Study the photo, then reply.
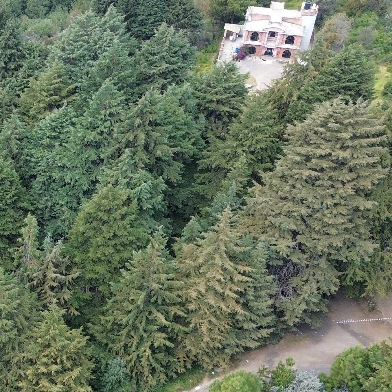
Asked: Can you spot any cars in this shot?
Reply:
No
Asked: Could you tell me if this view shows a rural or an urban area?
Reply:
rural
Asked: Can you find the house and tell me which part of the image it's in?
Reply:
top right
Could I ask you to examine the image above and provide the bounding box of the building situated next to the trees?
[245,3,328,63]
